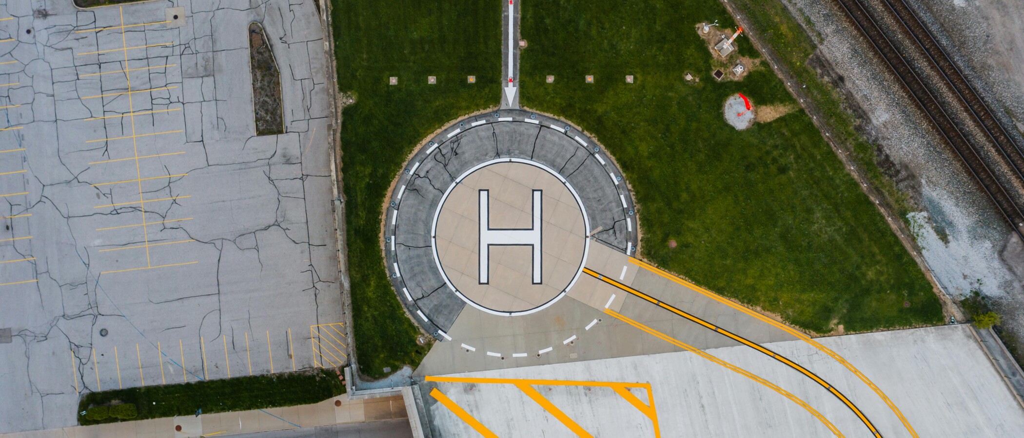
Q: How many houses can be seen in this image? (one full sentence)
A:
There are no houses in the image.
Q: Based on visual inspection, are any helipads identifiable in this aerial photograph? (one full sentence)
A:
Yes, the frame does contain a helipad.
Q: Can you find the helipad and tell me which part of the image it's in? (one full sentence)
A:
The helipad is in the center part of the image.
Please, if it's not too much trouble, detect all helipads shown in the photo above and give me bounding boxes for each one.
[384,111,637,358]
